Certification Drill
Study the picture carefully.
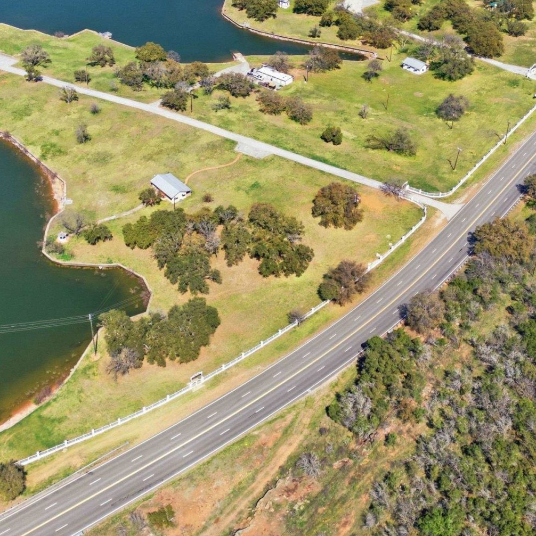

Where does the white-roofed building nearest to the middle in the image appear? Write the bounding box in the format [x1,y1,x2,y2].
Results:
[151,175,192,206]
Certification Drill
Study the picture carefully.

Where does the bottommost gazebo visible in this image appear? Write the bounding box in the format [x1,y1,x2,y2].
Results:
[54,229,69,243]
